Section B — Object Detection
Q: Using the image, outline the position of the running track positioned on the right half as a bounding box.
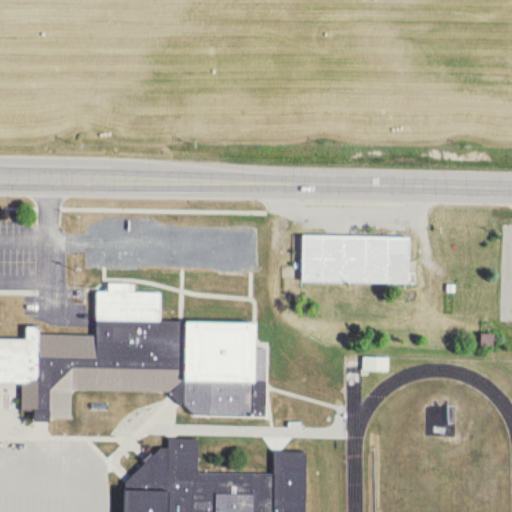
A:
[347,363,512,512]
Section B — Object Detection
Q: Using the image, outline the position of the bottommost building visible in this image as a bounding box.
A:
[124,438,306,512]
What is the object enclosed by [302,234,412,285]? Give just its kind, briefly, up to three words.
building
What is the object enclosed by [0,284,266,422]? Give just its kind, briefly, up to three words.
building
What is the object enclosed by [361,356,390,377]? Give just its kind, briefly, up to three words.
shed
